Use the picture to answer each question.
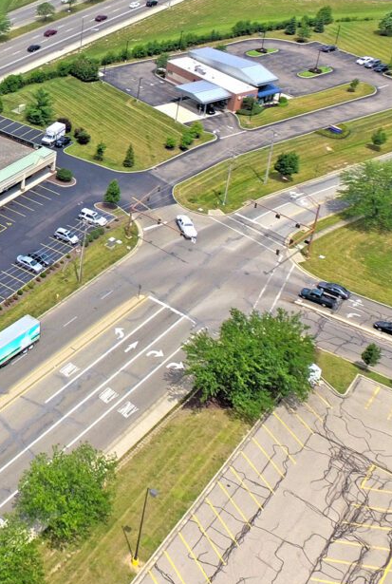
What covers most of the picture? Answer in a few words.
paved ground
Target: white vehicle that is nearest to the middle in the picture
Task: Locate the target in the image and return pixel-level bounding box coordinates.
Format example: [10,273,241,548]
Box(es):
[178,217,197,235]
